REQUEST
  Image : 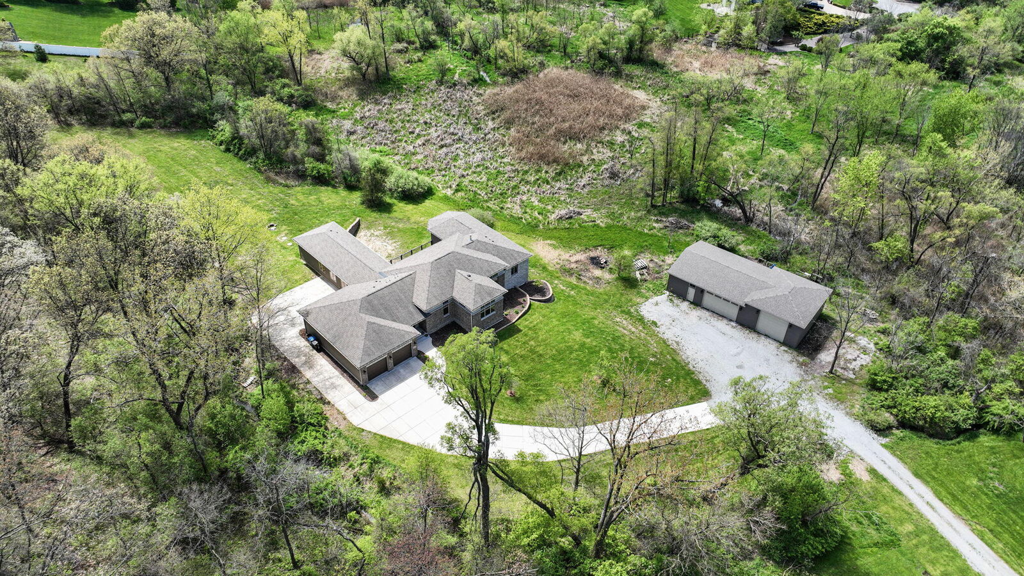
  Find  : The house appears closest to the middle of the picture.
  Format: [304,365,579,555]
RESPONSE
[291,211,535,385]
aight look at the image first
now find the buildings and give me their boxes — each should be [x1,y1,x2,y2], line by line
[0,14,18,39]
[291,211,535,385]
[666,241,834,347]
